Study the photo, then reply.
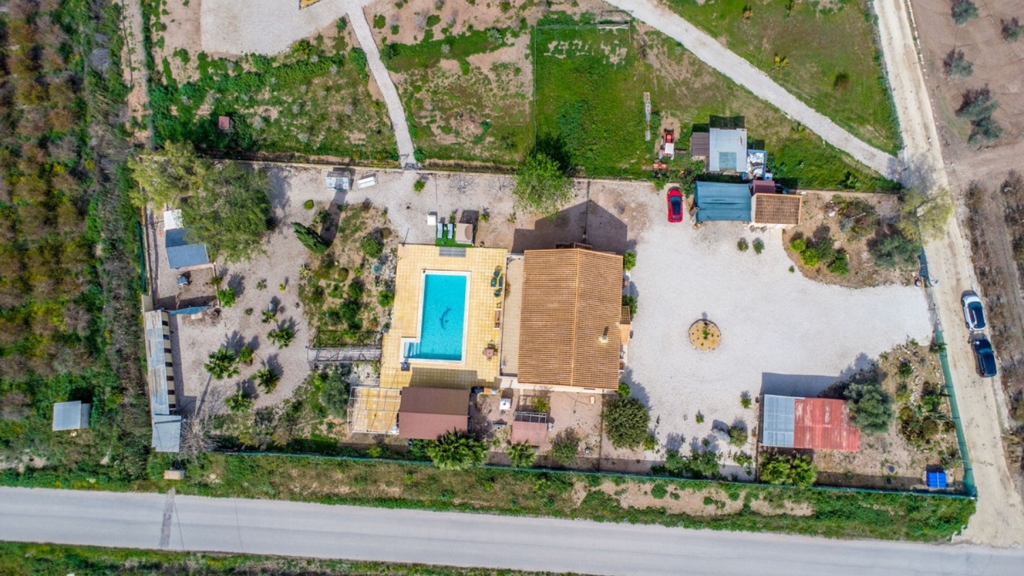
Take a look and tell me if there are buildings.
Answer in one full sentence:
Yes, the picture does show a building.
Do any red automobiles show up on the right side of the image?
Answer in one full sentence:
Yes, there is a red automobile on the right side of the image.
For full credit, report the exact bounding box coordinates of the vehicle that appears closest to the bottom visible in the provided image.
[969,338,1000,378]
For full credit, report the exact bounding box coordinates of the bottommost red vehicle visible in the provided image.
[666,188,684,223]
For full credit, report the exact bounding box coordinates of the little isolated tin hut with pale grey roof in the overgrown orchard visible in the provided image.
[53,401,92,431]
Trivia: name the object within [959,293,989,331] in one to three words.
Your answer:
car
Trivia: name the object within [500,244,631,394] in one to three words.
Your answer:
house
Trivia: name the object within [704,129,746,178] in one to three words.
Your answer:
building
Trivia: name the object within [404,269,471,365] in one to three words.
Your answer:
swimming pool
